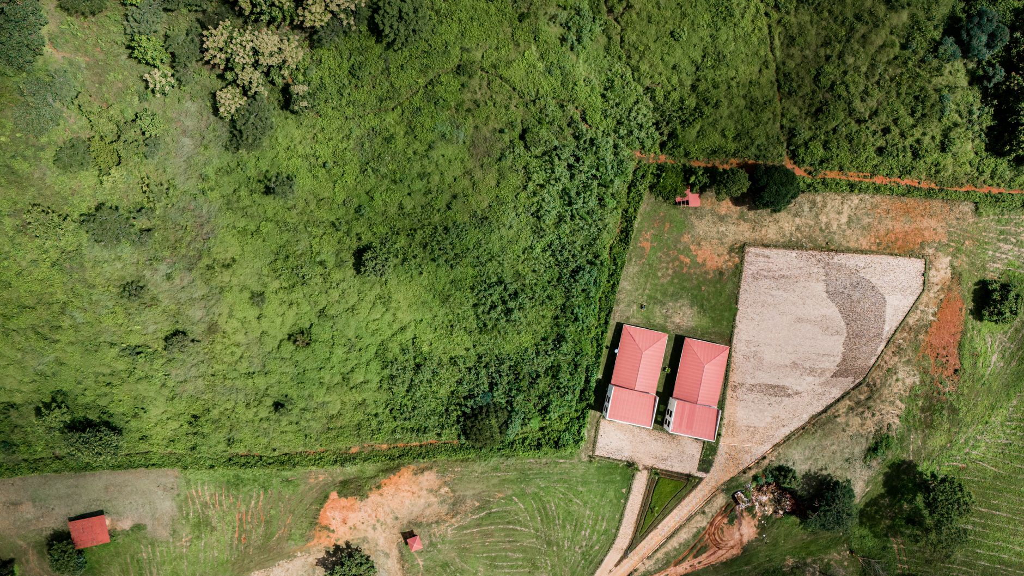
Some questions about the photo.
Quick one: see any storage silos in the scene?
No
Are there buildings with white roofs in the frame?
No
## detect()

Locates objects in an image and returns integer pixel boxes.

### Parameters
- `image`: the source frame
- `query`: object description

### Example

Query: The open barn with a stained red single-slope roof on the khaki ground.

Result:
[68,512,115,548]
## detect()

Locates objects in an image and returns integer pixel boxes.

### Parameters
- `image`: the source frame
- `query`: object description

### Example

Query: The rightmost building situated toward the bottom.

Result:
[663,337,730,444]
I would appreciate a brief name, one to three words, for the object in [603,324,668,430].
house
